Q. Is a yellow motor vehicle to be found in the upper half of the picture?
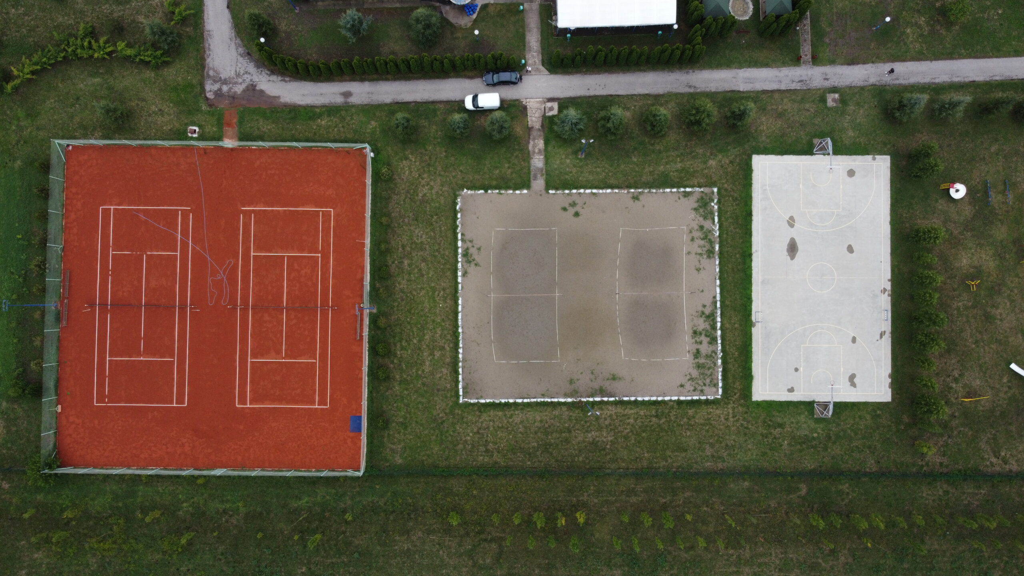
No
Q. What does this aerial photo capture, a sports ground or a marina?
sports ground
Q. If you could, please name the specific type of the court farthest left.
tennis court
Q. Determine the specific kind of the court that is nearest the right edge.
basketball court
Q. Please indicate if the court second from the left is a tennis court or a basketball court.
tennis court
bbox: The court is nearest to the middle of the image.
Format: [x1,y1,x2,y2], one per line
[461,192,589,400]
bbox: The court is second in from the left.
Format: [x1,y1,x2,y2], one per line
[212,148,368,469]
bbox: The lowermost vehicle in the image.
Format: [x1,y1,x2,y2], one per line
[465,92,502,111]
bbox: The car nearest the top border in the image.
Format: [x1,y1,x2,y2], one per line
[483,68,521,87]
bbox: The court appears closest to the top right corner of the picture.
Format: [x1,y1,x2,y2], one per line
[752,155,892,401]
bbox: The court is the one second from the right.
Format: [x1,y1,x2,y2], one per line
[588,190,719,399]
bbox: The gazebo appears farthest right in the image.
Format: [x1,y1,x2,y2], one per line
[759,0,792,21]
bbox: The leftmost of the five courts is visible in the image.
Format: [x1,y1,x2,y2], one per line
[58,145,214,468]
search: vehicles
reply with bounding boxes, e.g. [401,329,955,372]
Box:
[465,92,502,111]
[483,68,521,87]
